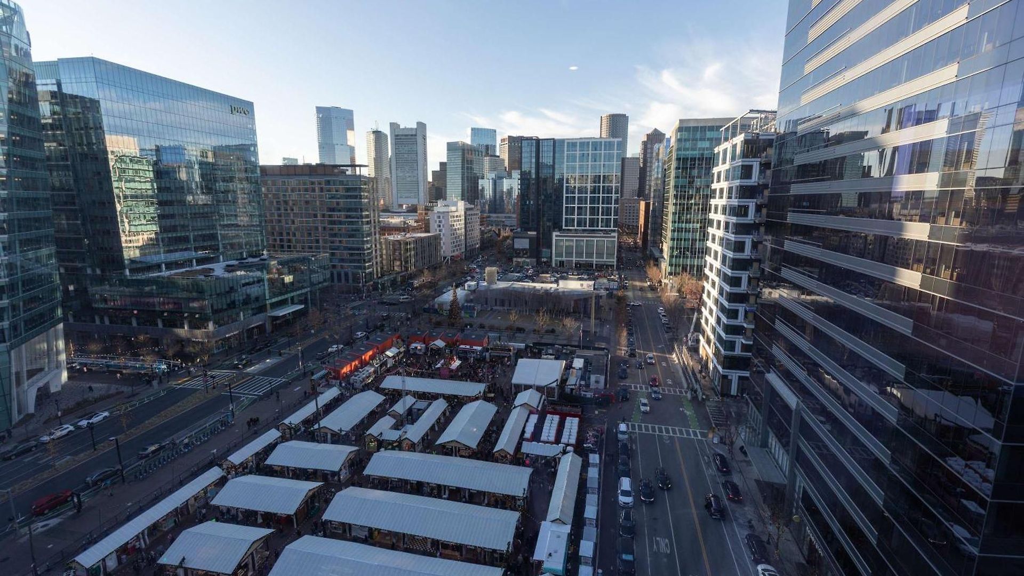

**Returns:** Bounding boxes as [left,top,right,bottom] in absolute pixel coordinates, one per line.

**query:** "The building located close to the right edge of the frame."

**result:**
[743,0,1024,576]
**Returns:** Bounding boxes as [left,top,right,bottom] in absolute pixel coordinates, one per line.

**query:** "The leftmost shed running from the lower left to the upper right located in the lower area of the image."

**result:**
[69,464,228,576]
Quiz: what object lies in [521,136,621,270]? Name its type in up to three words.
building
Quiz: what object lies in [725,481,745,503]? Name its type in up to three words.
car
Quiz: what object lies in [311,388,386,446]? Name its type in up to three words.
shed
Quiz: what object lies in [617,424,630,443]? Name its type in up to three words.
vehicle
